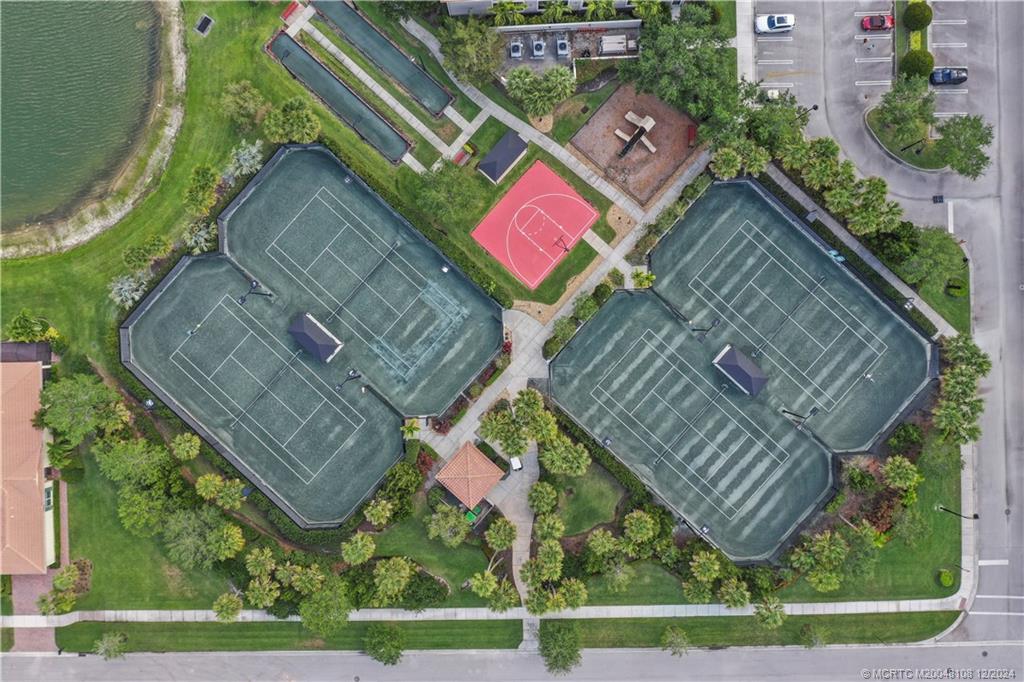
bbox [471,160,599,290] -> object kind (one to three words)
basketball court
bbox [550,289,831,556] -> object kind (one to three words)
tennis court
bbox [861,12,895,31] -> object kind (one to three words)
car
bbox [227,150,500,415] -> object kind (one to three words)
tennis court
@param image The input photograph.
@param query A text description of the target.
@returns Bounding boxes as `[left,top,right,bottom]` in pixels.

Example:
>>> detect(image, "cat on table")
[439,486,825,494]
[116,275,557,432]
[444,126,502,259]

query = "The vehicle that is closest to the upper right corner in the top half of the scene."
[930,66,971,85]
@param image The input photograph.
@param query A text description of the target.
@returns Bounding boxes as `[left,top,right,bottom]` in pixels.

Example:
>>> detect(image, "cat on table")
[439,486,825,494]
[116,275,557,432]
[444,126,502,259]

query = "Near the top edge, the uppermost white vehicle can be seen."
[756,12,796,33]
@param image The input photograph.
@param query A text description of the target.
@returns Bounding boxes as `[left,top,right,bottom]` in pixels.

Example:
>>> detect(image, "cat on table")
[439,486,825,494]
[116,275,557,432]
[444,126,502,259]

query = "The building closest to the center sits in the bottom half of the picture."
[435,441,505,511]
